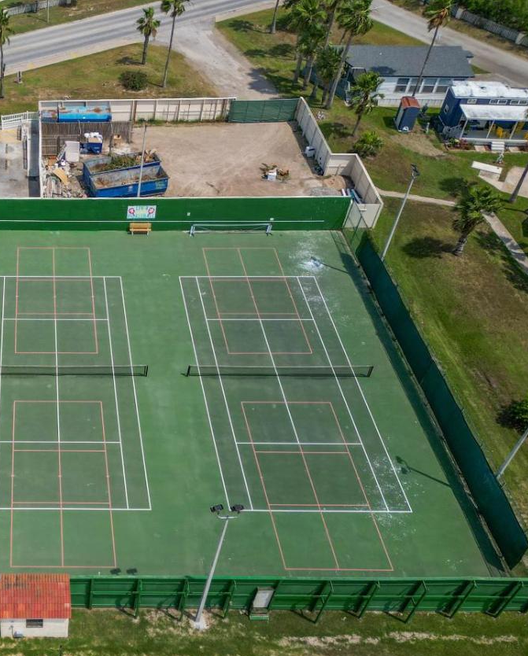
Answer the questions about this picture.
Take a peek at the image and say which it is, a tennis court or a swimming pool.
tennis court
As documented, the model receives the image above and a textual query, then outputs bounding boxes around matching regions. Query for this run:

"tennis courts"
[0,246,153,568]
[181,247,411,569]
